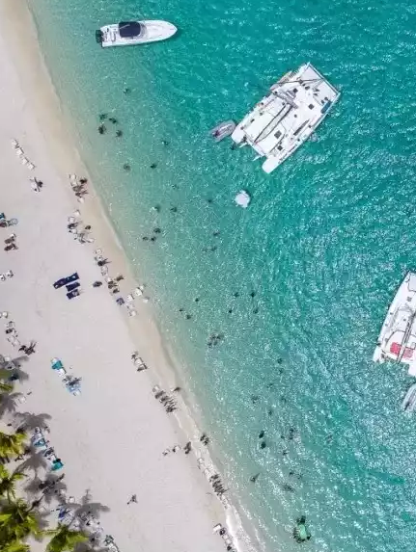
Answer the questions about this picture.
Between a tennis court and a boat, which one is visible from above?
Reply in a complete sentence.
The one in the frame is a boat.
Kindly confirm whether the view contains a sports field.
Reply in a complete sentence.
No, I can't see a single sports field in this photo.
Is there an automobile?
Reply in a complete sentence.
No, no automobile can be seen from above.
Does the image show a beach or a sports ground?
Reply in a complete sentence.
This looks like a beach.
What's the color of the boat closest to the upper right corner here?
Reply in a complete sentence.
In this view, the boat closest to the upper right corner is white.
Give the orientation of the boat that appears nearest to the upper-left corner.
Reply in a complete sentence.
The boat that appears nearest to the upper-left corner has been laid out from side to side relative to the frame.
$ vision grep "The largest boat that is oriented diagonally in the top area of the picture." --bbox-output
[234,62,340,172]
